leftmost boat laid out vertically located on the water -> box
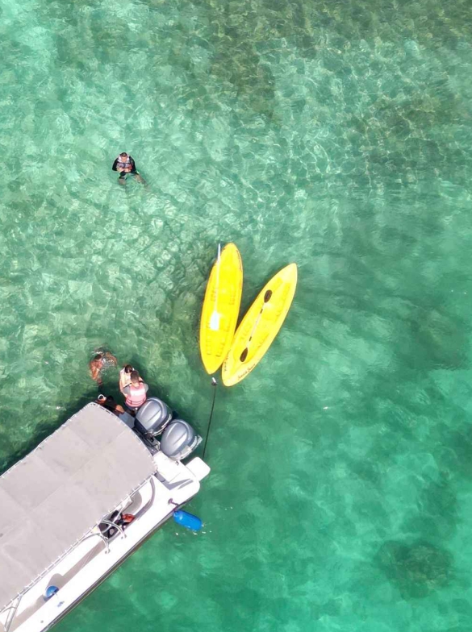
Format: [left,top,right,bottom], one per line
[200,241,245,374]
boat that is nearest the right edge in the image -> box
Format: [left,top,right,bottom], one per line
[225,261,300,387]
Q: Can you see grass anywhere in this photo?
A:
No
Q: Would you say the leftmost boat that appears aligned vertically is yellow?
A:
Yes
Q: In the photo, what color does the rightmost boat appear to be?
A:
yellow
